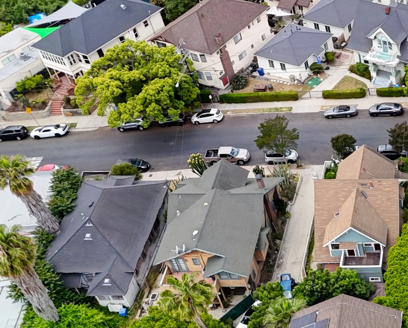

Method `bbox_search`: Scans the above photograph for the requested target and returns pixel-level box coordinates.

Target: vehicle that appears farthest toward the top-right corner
[368,101,404,117]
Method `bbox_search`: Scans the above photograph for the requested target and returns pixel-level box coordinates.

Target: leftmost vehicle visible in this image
[0,120,33,142]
